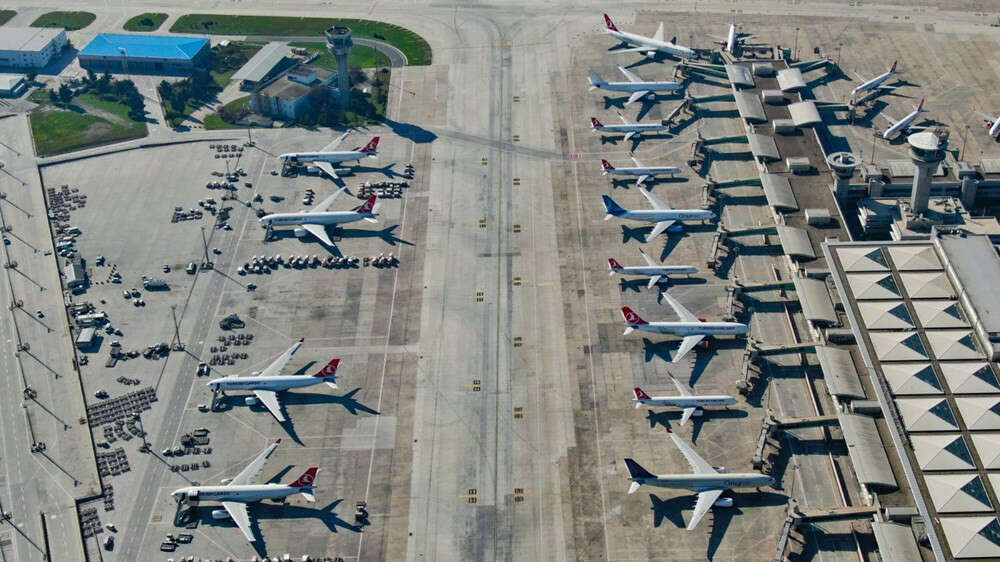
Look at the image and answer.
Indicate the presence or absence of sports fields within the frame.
No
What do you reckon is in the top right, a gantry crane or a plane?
plane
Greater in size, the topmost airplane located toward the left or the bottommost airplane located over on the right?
the bottommost airplane located over on the right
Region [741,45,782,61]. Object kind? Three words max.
jet bridge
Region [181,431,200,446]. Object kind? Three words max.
work vehicle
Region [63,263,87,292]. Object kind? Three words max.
shed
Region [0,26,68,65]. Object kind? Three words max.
building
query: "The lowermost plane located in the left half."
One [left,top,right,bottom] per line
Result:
[172,437,317,539]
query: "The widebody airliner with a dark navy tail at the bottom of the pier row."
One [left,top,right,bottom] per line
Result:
[628,426,773,526]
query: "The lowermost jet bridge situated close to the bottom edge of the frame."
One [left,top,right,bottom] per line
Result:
[772,506,865,562]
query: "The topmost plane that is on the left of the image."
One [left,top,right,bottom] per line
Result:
[277,127,378,177]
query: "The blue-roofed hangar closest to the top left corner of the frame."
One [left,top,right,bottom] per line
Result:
[79,34,210,70]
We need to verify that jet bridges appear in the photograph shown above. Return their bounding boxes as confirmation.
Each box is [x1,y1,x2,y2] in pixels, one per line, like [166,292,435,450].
[700,179,761,221]
[661,95,734,133]
[809,100,864,135]
[670,58,725,87]
[722,281,794,321]
[706,227,776,277]
[741,45,782,61]
[788,58,832,85]
[686,137,747,175]
[749,416,836,481]
[772,506,865,562]
[735,342,812,400]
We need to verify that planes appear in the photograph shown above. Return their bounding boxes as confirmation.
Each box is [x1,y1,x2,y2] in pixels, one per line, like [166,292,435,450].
[623,286,748,361]
[257,186,375,243]
[628,426,773,526]
[594,110,667,140]
[706,20,756,55]
[851,63,900,97]
[208,335,338,418]
[599,13,699,60]
[277,127,378,177]
[604,181,714,239]
[590,61,683,103]
[603,151,680,183]
[172,437,317,539]
[637,372,737,424]
[610,246,698,286]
